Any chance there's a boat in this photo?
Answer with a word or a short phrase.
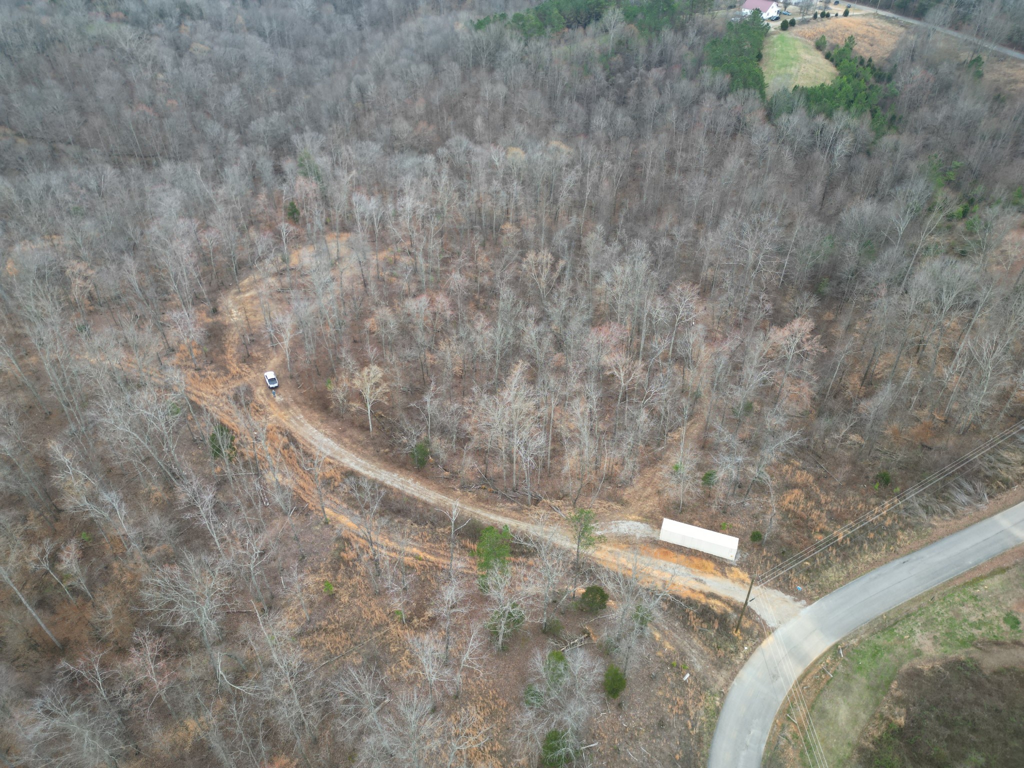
No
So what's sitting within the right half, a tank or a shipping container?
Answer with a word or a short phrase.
shipping container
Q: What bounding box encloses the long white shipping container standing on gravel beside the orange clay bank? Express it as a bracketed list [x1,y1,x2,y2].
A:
[660,518,739,560]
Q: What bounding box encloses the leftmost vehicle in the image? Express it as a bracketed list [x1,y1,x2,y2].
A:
[263,370,278,390]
